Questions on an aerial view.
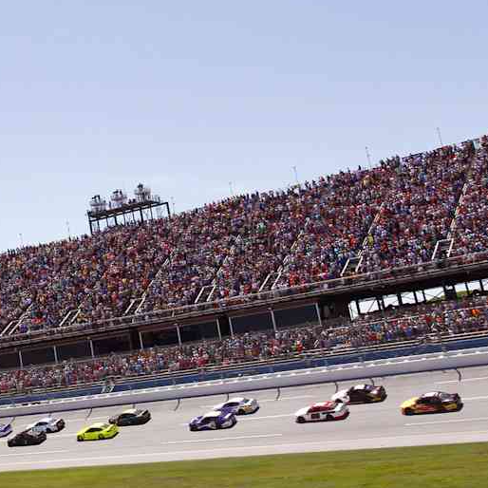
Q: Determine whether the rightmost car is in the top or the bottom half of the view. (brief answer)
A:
bottom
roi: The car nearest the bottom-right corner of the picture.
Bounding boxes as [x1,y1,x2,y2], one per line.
[402,392,461,415]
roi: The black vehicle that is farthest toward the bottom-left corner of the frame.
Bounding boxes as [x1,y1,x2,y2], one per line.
[9,430,47,447]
